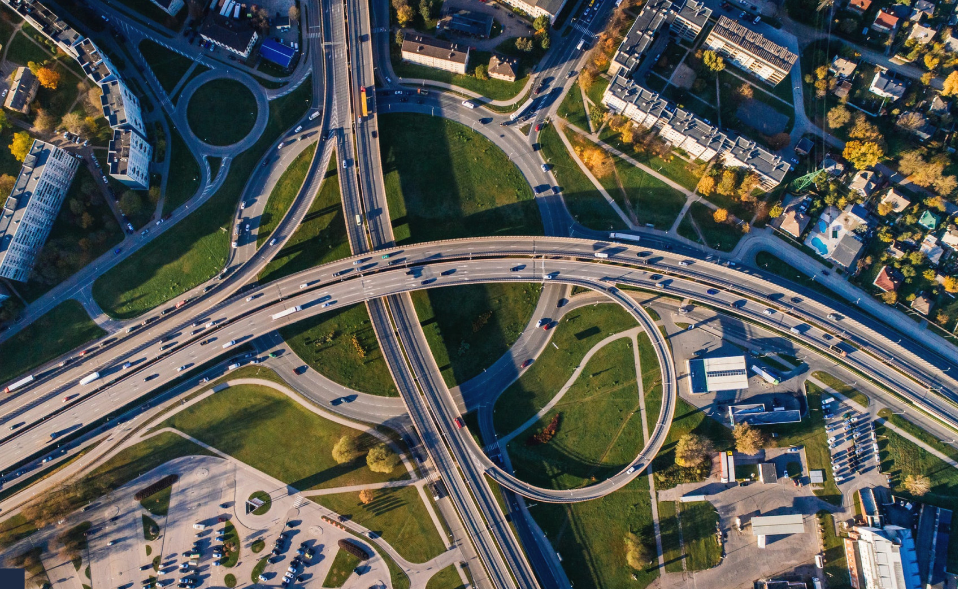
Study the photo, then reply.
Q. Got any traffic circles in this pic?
Yes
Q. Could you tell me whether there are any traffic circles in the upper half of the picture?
Yes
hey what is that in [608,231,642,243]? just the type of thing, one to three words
vehicle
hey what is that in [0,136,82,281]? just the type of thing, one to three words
building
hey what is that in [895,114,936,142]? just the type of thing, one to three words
house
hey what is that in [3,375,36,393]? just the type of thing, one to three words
vehicle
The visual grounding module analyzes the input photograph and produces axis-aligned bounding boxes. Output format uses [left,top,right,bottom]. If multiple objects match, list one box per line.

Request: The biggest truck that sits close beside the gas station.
[748,362,780,387]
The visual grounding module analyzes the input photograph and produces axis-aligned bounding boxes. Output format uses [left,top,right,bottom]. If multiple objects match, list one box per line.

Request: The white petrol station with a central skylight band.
[703,356,748,392]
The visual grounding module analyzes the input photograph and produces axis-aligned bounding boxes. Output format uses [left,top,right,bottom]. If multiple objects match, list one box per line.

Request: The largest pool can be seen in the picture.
[810,237,829,255]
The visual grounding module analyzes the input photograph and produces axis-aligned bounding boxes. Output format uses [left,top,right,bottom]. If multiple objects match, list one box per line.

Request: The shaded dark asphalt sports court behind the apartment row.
[737,98,789,135]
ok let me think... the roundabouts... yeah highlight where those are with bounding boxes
[175,66,269,158]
